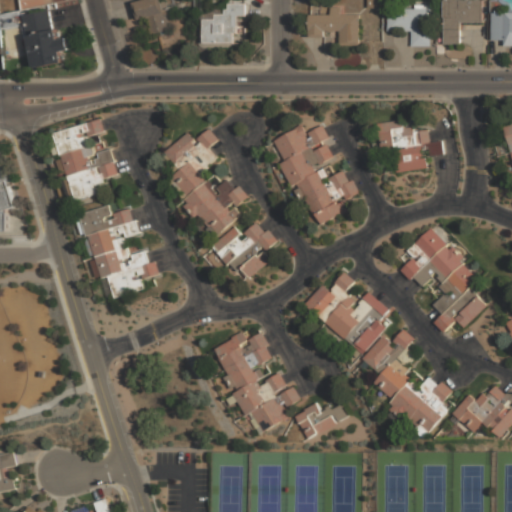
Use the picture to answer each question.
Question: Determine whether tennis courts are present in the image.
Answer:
Yes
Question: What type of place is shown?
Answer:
residential area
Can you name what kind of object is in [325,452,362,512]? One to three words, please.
tennis court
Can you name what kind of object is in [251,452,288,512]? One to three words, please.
tennis court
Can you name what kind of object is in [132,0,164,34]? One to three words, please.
house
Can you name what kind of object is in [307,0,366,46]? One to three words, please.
house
